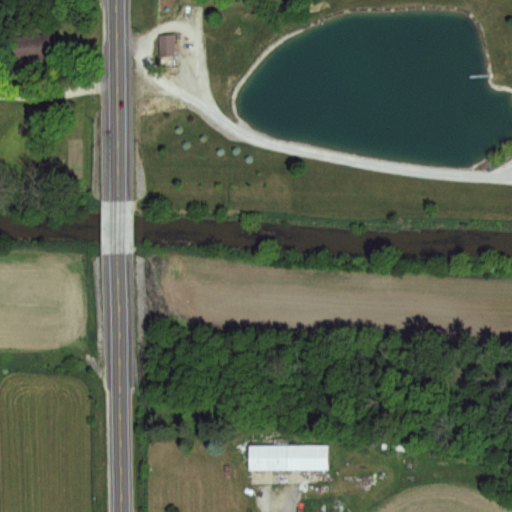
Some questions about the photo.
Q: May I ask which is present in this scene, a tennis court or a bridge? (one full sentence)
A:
There is a bridge in the scene.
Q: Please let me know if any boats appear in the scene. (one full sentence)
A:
No, no boat is visible in the view.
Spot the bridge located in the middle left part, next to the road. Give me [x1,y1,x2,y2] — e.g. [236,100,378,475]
[102,202,134,254]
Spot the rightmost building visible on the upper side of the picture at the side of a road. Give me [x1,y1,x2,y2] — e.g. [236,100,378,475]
[159,34,177,66]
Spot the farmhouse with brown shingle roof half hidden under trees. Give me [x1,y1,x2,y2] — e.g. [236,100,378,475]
[14,36,48,60]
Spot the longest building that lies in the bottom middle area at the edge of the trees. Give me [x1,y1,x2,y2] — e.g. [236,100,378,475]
[249,444,329,472]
